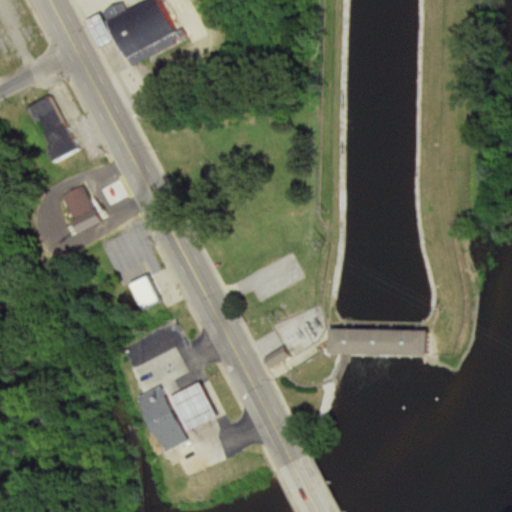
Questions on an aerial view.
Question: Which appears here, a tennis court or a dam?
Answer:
dam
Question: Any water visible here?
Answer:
Yes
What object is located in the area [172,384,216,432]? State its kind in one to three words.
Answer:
building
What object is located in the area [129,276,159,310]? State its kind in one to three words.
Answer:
building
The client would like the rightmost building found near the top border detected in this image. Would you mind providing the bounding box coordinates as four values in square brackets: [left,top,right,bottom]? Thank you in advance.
[103,0,185,64]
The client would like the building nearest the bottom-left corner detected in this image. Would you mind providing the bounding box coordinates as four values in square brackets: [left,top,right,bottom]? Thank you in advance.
[139,386,188,450]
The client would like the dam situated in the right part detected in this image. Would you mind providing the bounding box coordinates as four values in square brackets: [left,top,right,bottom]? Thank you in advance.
[324,321,440,383]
